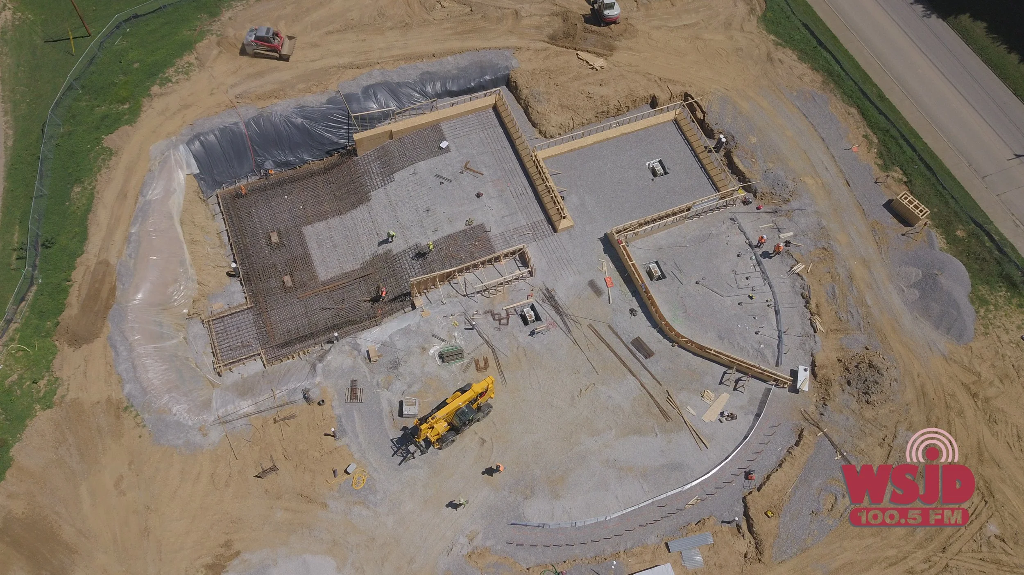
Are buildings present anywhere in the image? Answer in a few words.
No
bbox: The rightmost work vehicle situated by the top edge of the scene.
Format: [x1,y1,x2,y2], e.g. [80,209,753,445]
[597,0,623,27]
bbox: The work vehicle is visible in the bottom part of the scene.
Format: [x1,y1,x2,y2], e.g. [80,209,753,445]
[401,371,499,462]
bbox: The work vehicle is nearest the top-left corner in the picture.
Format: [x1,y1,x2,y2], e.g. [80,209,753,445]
[244,26,304,67]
